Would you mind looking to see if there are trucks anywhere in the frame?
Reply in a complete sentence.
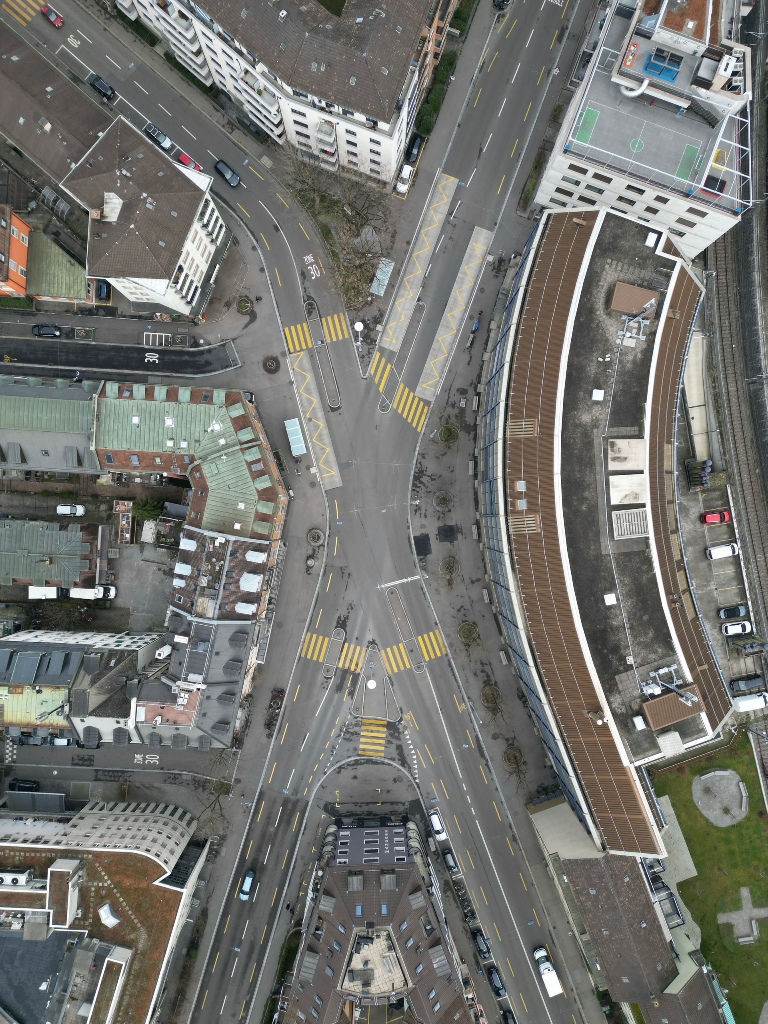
Yes, a truck is visible in the scene.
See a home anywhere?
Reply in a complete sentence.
Yes, looking at the shot, I can spot a home.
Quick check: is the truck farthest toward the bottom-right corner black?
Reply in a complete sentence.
No, the truck farthest toward the bottom-right corner is white.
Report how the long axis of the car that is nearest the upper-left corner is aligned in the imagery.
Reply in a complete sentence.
Seen from above, the car that is nearest the upper-left corner lies on a diagonal.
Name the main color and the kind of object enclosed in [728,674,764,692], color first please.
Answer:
gray car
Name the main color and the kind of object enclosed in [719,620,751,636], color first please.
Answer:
white car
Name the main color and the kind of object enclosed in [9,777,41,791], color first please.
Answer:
black car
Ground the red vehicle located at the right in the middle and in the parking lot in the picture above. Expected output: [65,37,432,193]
[699,509,731,525]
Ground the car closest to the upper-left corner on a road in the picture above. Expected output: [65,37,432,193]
[39,4,67,33]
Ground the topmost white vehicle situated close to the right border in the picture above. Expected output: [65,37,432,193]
[703,541,739,559]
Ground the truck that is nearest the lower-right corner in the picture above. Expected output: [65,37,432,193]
[533,944,565,1001]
